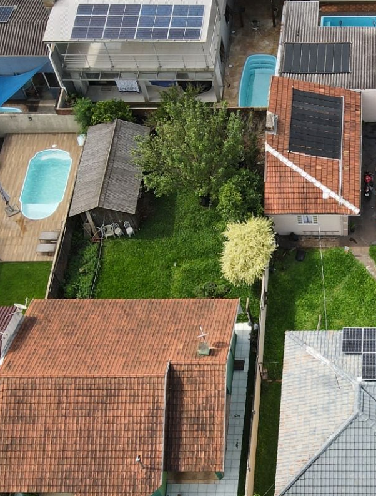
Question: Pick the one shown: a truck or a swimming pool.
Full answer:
Looking from above, you can make out a swimming pool.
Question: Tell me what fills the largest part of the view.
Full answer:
The bulk of the photo consists of buildings.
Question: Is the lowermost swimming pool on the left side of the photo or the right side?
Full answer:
The lowermost swimming pool is on the left side of the image.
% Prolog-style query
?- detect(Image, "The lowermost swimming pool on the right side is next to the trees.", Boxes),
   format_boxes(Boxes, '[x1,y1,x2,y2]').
[239,54,278,106]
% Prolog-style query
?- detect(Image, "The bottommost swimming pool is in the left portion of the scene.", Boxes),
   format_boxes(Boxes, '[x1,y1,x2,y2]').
[20,149,73,219]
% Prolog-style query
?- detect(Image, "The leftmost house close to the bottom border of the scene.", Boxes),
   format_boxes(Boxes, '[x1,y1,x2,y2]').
[0,298,241,496]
